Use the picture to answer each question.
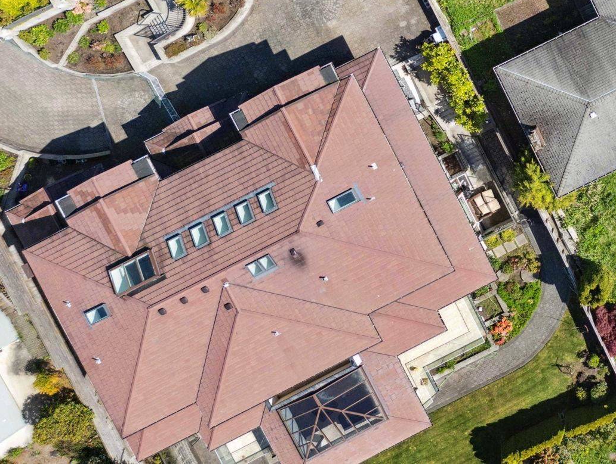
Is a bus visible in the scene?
No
